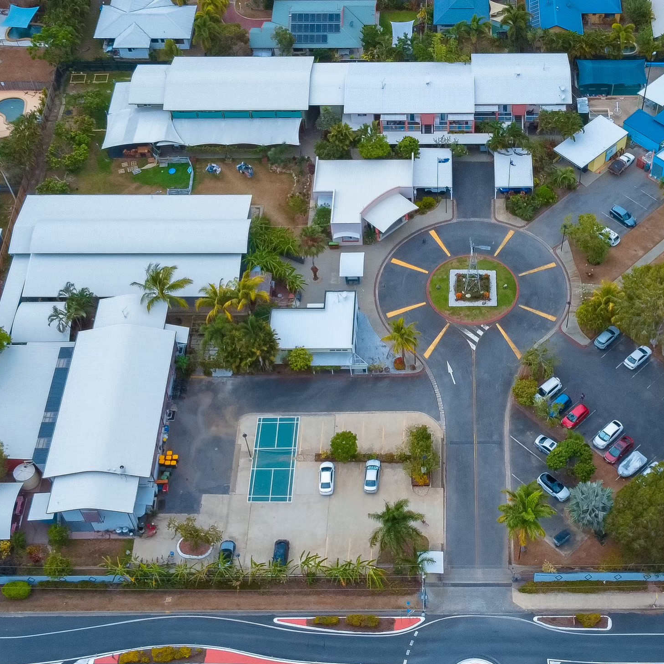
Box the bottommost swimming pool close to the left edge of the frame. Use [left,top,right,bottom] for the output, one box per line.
[0,97,27,123]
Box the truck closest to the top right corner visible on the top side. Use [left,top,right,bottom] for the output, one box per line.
[606,153,634,175]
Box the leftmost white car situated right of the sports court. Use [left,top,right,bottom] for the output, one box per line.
[318,461,335,496]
